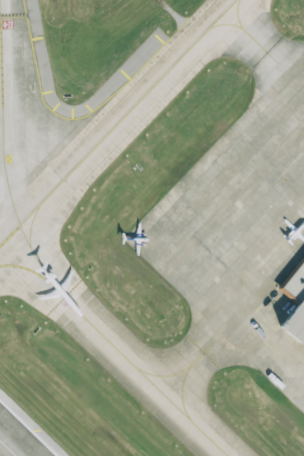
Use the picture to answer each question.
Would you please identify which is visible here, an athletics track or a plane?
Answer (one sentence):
This aerial view contains a plane.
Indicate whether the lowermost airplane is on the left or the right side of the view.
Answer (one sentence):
The lowermost airplane is on the left side of the image.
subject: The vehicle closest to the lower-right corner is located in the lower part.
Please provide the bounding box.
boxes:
[268,372,286,390]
